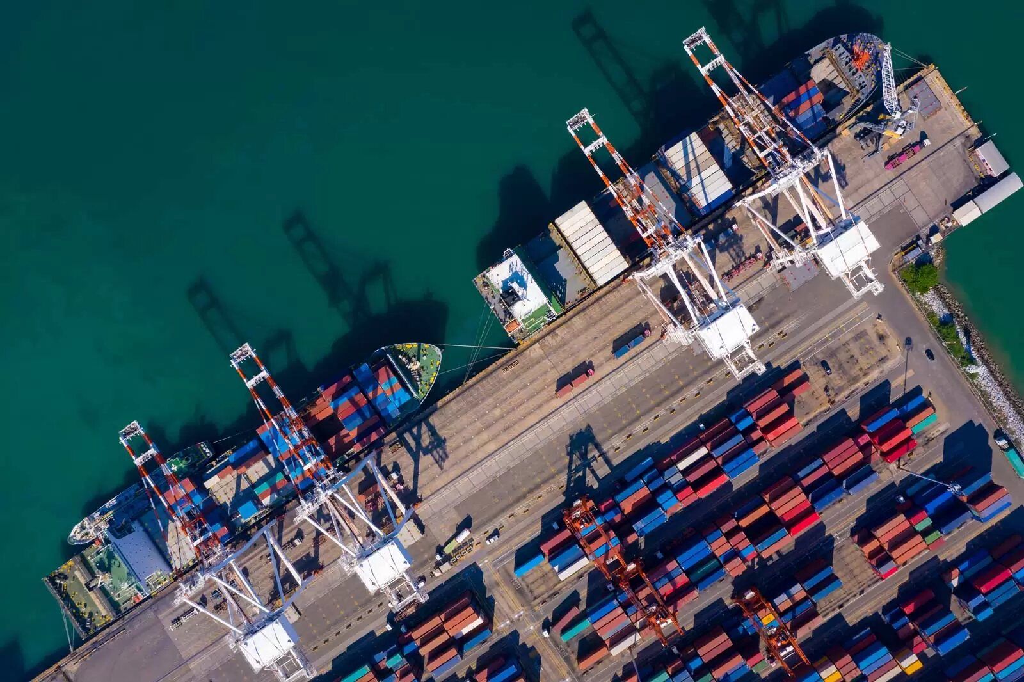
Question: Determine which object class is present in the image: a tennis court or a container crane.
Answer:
container crane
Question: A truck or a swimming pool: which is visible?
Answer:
truck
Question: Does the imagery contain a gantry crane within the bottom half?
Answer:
Yes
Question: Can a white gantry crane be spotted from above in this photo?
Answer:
Yes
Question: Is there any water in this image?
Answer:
Yes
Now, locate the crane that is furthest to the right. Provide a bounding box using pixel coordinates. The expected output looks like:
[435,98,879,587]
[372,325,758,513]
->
[863,42,928,159]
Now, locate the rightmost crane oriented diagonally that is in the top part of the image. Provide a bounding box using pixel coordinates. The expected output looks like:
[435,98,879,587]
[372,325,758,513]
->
[684,25,891,297]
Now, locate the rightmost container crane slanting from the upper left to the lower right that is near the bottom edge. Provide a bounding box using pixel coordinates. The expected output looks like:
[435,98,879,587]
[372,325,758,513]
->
[730,582,815,680]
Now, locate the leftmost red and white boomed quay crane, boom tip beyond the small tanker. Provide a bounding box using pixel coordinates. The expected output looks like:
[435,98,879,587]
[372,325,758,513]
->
[119,420,320,682]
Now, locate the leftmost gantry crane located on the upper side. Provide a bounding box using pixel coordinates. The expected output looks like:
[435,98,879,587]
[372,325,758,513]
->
[566,106,772,378]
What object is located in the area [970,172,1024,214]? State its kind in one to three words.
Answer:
shed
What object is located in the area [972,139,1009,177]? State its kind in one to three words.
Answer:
shed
